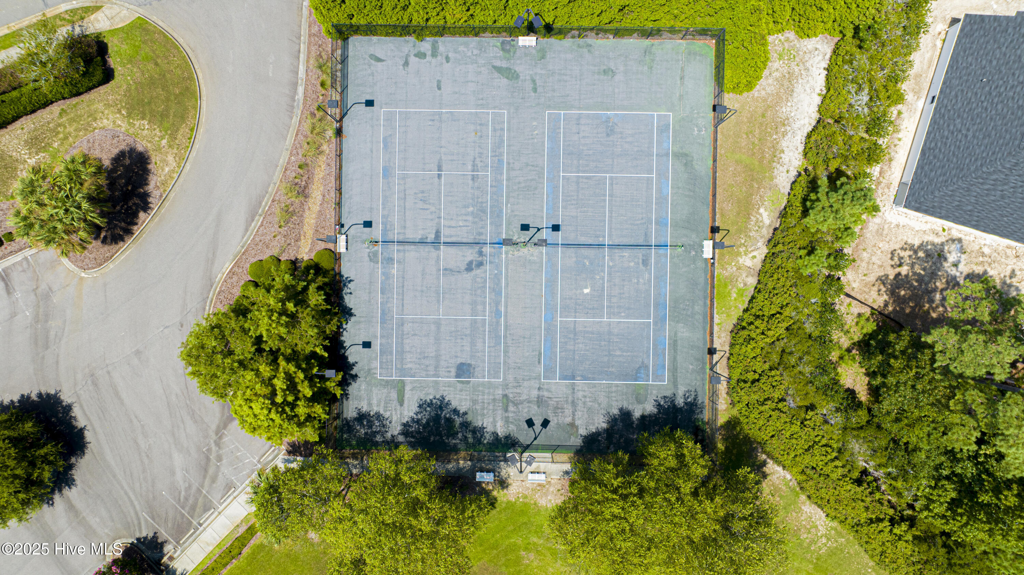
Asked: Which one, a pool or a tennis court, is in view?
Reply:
tennis court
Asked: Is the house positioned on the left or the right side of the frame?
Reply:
right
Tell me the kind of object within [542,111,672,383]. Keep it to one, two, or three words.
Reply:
tennis court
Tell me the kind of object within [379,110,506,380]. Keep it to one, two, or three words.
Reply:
tennis court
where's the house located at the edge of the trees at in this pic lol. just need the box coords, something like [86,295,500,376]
[890,16,1024,247]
